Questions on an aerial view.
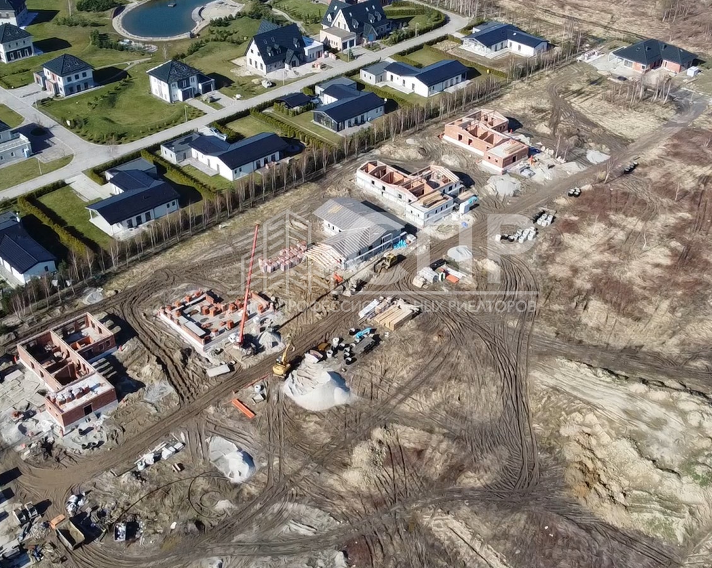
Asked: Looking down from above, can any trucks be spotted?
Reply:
Yes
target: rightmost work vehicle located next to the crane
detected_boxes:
[267,337,300,377]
